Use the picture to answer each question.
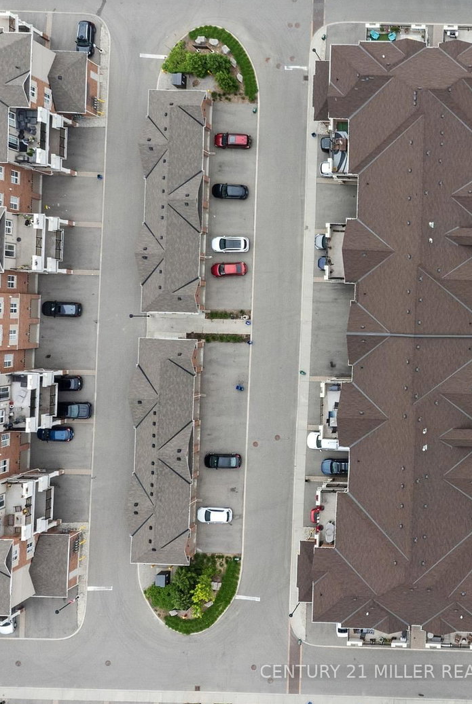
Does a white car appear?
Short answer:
Yes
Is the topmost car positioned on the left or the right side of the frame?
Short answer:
left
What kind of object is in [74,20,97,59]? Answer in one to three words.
car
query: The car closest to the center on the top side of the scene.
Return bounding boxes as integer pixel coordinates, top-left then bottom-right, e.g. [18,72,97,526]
[212,261,247,278]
